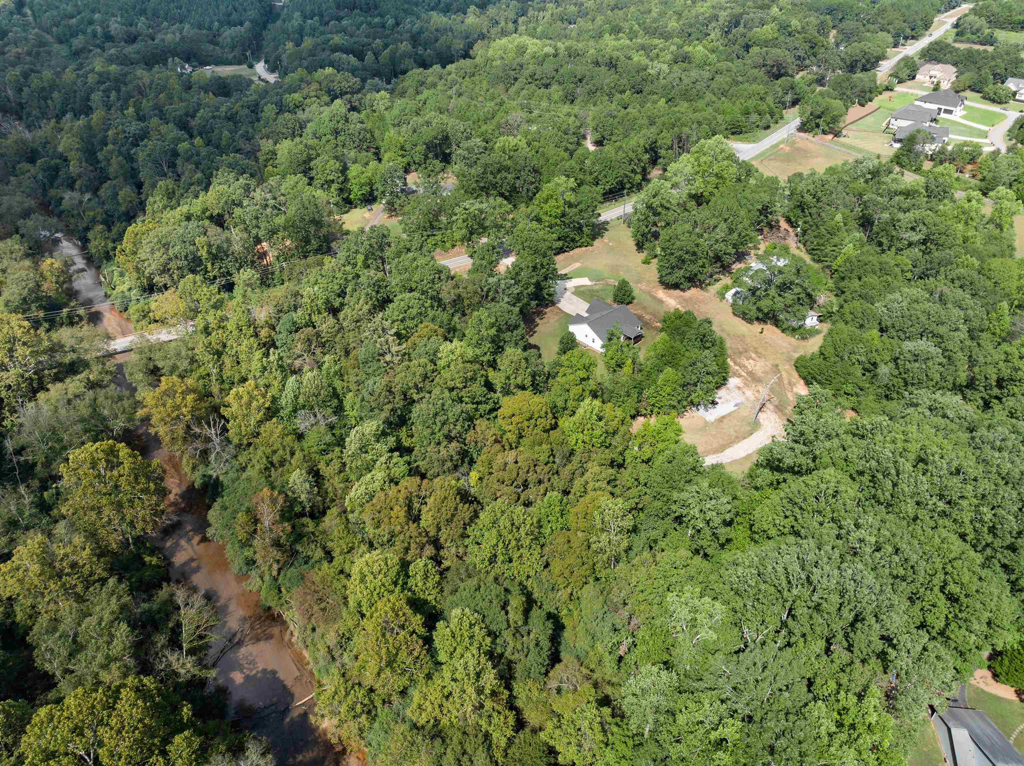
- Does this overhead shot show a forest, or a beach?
forest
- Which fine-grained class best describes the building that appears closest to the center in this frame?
house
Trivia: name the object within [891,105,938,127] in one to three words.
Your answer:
house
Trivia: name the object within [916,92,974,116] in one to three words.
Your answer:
house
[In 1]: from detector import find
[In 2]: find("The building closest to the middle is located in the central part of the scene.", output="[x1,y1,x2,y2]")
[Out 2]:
[567,297,645,351]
